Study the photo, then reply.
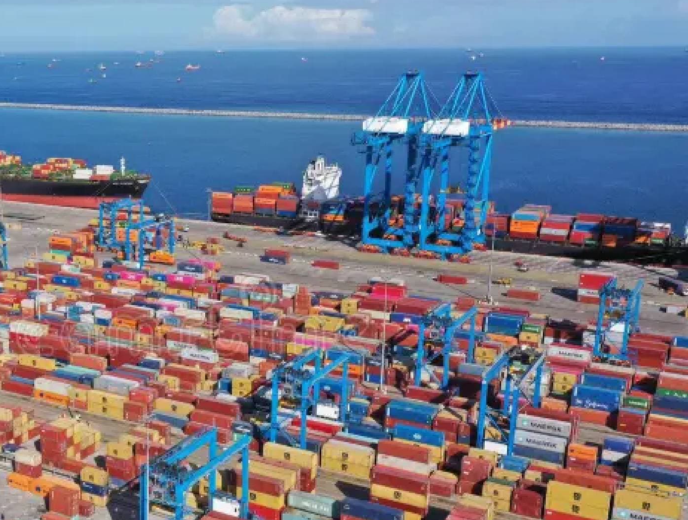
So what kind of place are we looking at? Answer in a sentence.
This looks like a port.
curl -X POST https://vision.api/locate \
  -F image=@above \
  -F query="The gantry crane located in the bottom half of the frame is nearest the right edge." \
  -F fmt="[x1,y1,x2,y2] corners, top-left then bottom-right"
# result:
[582,272,644,356]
